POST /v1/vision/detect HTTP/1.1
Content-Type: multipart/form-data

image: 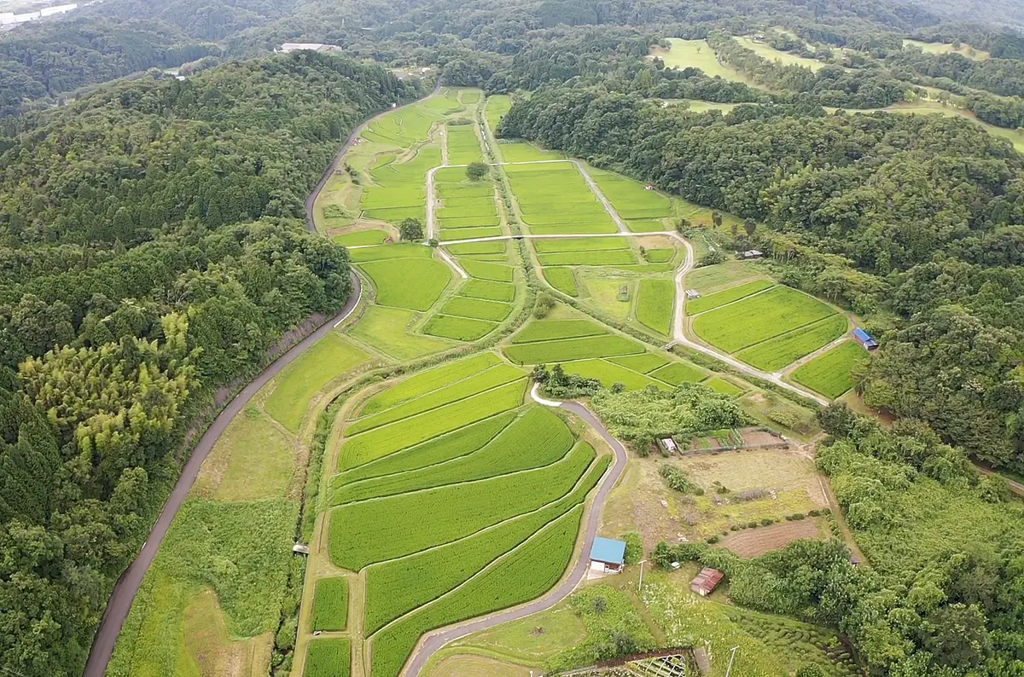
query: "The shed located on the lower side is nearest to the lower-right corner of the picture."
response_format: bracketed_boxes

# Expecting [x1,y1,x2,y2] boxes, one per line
[692,566,722,596]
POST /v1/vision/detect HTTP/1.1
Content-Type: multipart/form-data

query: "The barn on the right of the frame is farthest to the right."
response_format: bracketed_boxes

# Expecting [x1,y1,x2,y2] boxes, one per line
[849,327,879,353]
